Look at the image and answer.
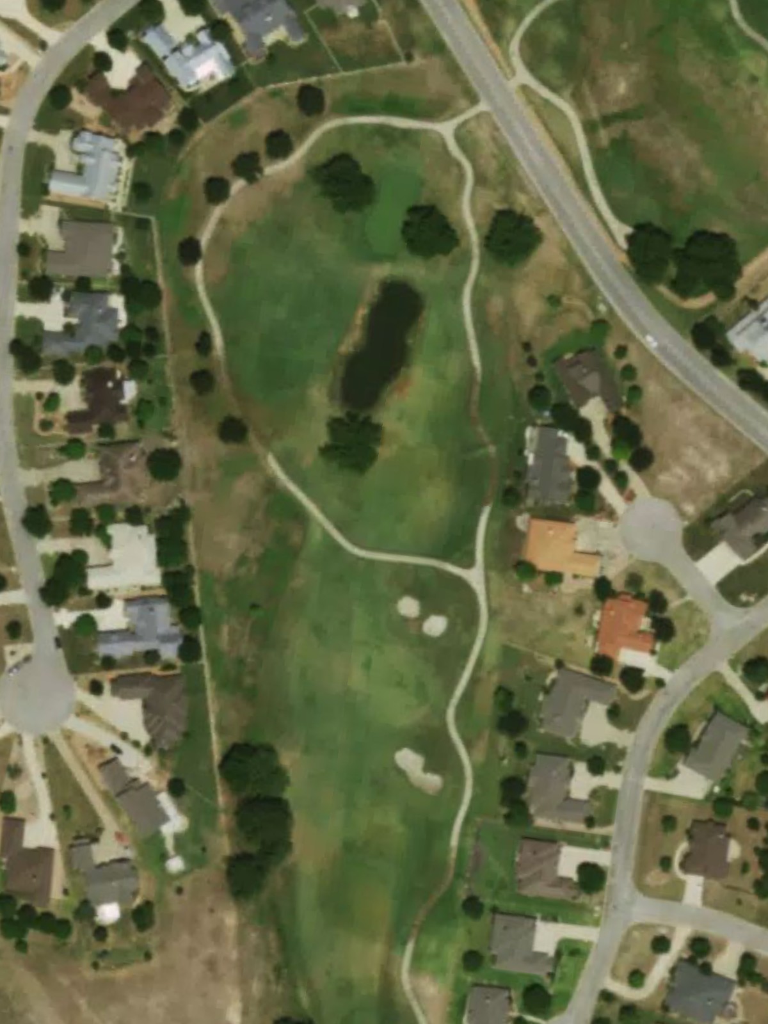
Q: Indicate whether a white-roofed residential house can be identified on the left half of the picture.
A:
Yes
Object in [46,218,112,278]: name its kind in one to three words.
house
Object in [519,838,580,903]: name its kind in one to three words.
house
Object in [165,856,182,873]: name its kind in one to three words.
gazebo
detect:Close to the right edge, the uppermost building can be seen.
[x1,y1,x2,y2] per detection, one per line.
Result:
[725,296,768,362]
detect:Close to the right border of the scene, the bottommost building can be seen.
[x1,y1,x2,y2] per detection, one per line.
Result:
[665,958,739,1024]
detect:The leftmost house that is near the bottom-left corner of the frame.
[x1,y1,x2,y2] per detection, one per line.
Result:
[1,816,54,906]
